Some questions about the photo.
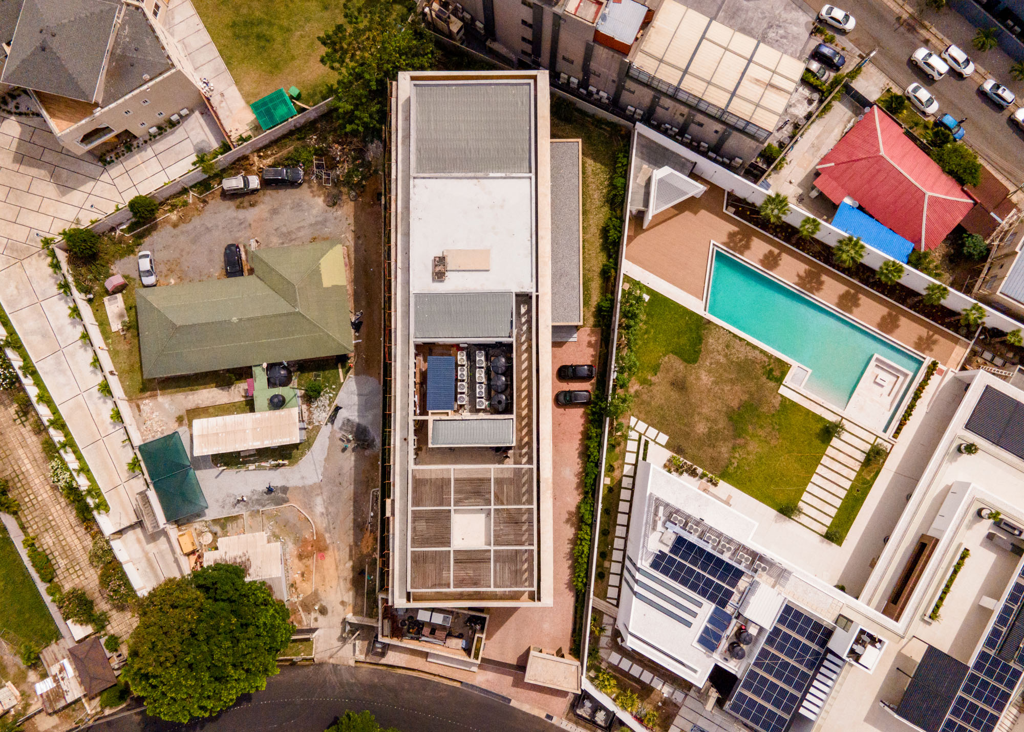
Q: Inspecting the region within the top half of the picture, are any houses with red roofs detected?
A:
Yes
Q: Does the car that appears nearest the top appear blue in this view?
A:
No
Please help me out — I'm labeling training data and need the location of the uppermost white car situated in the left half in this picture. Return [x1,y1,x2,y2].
[220,173,261,195]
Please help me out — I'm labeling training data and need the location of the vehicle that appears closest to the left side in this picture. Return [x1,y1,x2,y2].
[138,249,159,288]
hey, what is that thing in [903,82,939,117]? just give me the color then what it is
white car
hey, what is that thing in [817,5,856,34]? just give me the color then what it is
white car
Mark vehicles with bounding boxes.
[225,242,245,277]
[933,111,967,142]
[220,173,261,195]
[808,41,848,71]
[817,5,856,34]
[802,56,834,83]
[909,48,949,80]
[903,82,939,117]
[940,45,973,77]
[557,362,596,381]
[978,78,1018,110]
[138,249,159,288]
[259,165,304,186]
[554,388,593,407]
